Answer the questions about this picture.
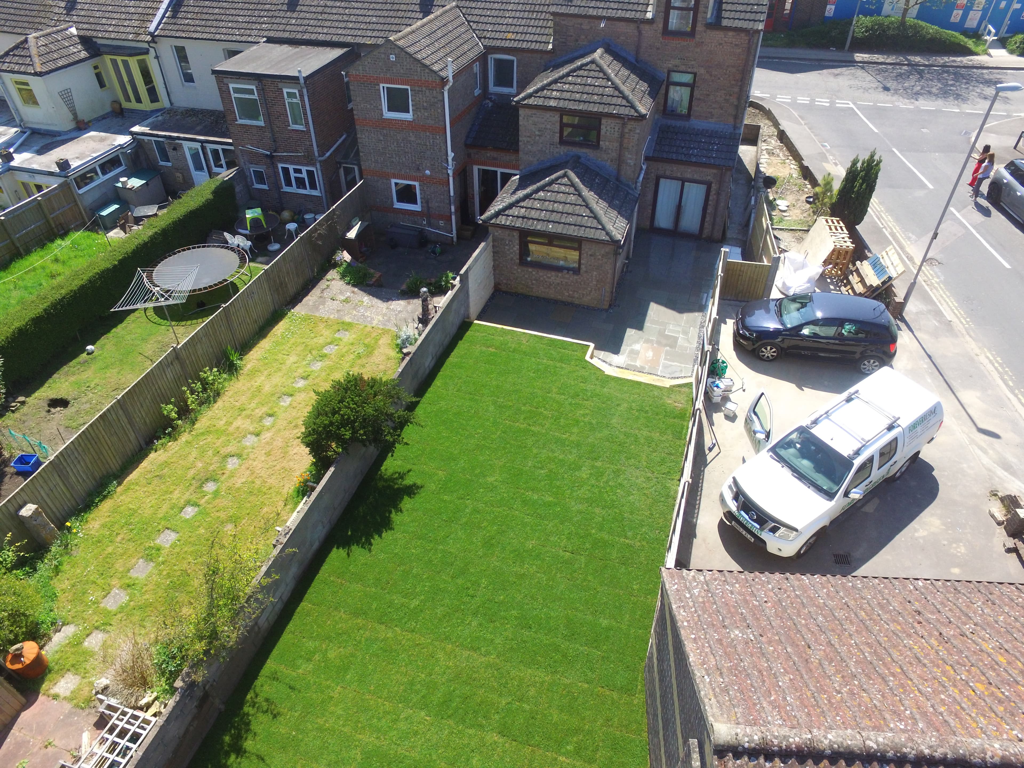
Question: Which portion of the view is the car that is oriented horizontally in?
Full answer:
The car that is oriented horizontally is located in the right region of the scene.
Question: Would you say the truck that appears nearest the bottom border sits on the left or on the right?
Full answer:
You can find the truck that appears nearest the bottom border on the right side of the picture.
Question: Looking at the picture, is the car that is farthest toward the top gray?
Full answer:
Yes, the car that is farthest toward the top appears gray.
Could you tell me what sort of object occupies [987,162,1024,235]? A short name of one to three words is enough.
car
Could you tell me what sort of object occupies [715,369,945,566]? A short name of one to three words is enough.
truck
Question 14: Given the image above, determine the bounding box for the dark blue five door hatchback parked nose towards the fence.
[738,293,905,375]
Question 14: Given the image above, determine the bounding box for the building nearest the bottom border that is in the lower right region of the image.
[652,561,1024,768]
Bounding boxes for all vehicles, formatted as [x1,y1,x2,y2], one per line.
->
[715,369,945,566]
[987,162,1024,235]
[738,293,905,375]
